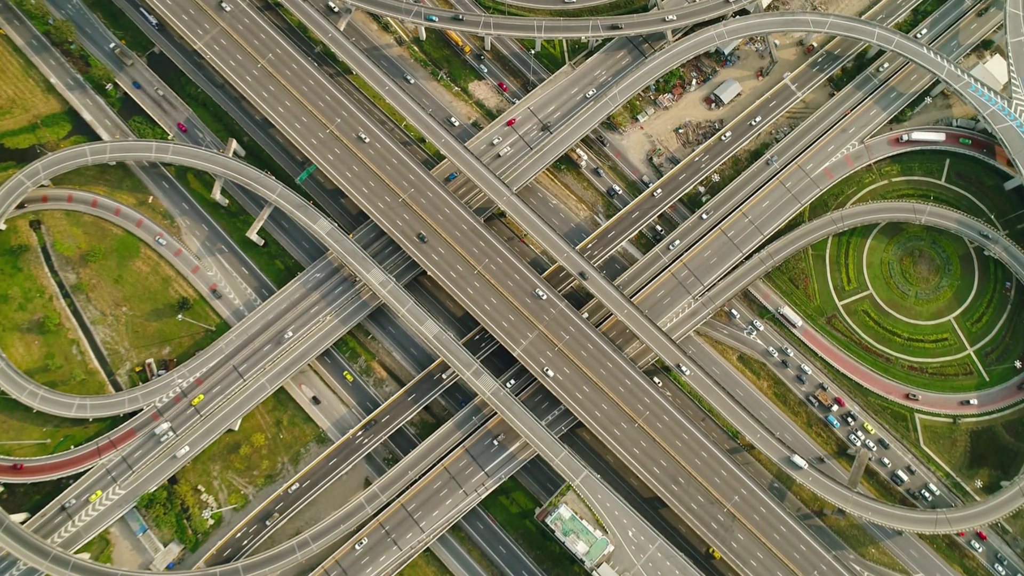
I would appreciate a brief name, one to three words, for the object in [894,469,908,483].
vehicle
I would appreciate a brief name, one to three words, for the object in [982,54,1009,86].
building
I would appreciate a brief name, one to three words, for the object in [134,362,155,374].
vehicle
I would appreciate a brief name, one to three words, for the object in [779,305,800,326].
truck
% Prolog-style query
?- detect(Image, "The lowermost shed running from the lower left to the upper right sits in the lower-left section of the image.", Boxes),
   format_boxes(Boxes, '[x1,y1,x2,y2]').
[150,540,184,572]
